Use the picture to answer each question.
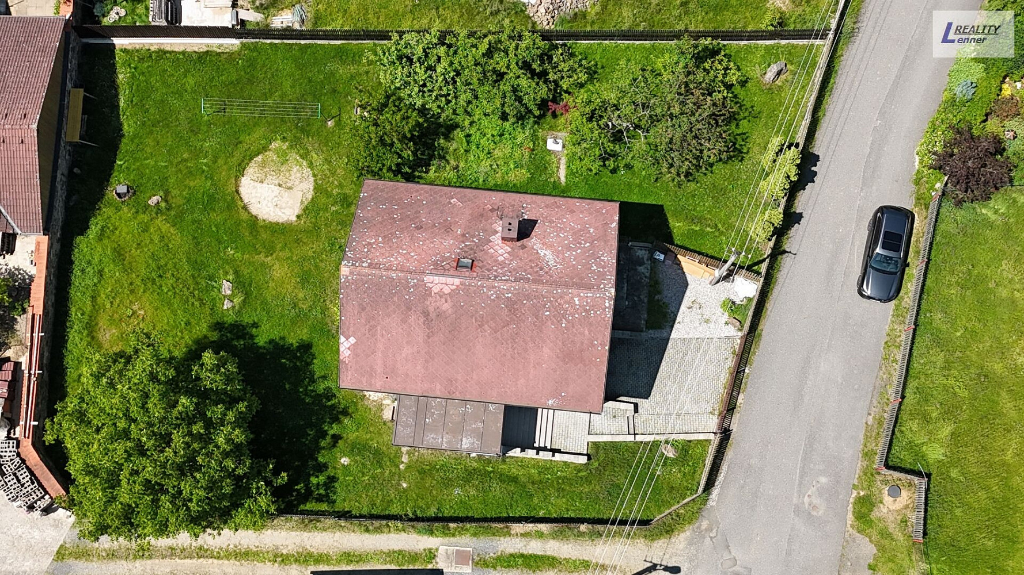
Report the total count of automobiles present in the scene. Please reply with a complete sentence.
In total, there is 1 automobile in the scene.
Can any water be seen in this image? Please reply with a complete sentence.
No, water can't be seen anywhere here.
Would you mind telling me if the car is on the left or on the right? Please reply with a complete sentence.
The car appears in the right half of the scene.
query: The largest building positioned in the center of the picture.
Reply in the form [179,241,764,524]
[337,176,620,417]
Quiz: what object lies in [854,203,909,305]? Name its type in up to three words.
car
